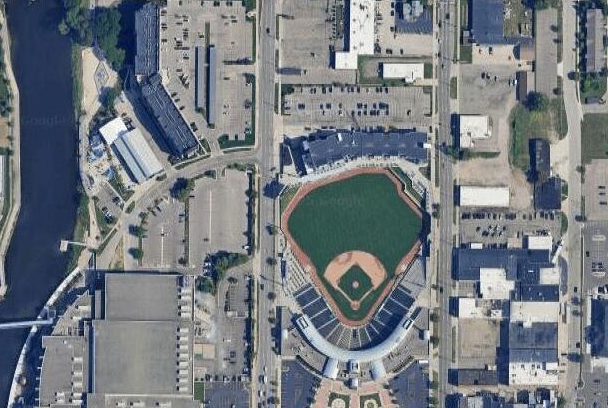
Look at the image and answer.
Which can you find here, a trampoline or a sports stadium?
sports stadium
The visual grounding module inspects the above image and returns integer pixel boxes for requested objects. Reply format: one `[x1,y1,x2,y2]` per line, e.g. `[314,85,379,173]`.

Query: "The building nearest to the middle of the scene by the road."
[304,131,431,174]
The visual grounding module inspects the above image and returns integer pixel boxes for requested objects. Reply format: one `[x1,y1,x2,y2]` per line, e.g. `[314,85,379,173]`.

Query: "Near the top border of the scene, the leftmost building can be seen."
[136,2,199,154]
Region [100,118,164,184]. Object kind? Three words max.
building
